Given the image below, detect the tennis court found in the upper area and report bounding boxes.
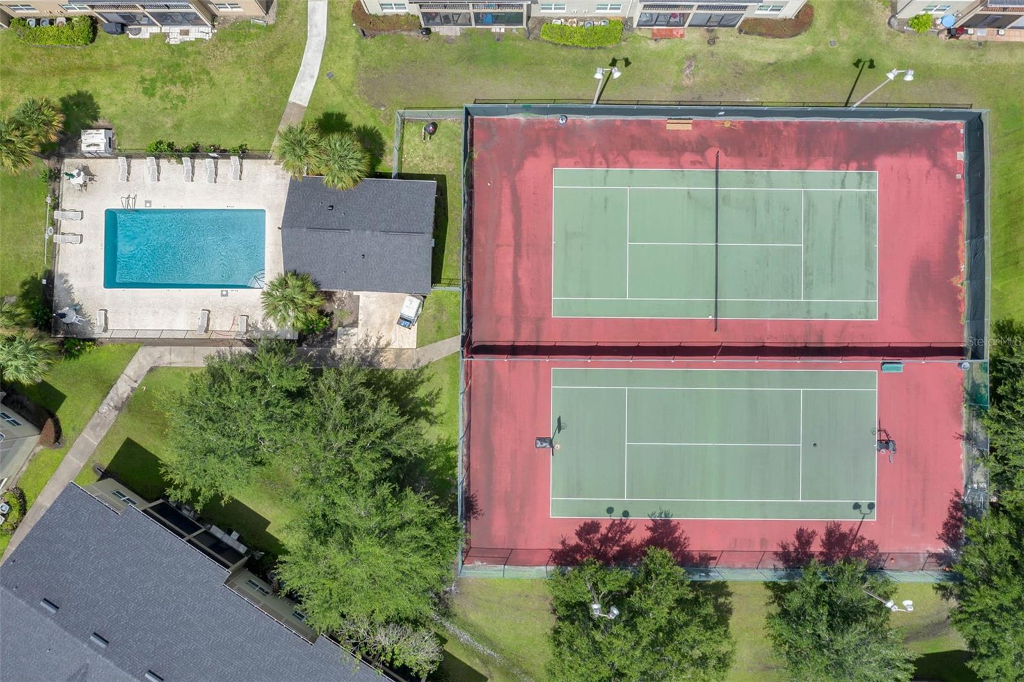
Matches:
[470,120,964,360]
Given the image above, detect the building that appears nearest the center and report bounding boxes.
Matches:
[275,176,436,295]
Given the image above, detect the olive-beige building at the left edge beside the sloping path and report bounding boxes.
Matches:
[0,391,42,484]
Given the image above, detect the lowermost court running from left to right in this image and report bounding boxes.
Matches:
[468,359,964,569]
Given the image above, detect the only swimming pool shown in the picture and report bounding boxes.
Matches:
[97,200,267,297]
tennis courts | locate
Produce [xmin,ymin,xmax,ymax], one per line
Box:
[470,120,964,360]
[468,359,964,569]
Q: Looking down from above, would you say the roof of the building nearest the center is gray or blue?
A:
gray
